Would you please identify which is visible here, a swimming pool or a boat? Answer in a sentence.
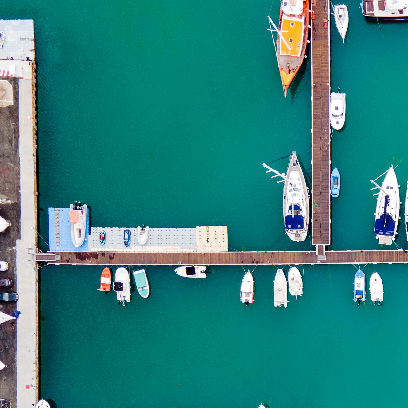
There is a boat in the scene.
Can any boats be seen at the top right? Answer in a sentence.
Yes, at the top right there is a boat.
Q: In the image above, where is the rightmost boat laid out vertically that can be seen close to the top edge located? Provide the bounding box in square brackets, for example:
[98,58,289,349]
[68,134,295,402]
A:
[331,1,349,43]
